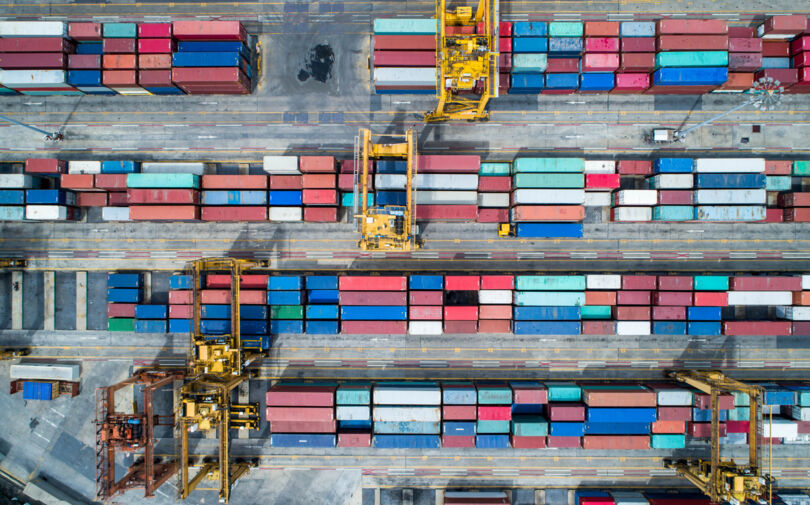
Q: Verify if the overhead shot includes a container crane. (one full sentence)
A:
Yes, you can see a container crane in this photo.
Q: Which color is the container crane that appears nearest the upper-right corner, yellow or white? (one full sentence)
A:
The container crane that appears nearest the upper-right corner is yellow.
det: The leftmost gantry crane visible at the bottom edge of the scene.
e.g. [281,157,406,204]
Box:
[98,370,200,499]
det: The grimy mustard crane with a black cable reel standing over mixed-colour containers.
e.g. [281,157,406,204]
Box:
[659,373,774,505]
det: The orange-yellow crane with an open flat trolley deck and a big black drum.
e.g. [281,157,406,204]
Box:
[353,128,423,250]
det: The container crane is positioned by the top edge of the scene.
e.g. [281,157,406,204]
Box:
[423,0,499,120]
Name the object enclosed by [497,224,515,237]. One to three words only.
vehicle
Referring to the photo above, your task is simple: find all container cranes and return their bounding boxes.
[187,259,273,377]
[423,0,499,120]
[659,373,774,505]
[175,370,263,502]
[98,370,200,499]
[353,128,423,250]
